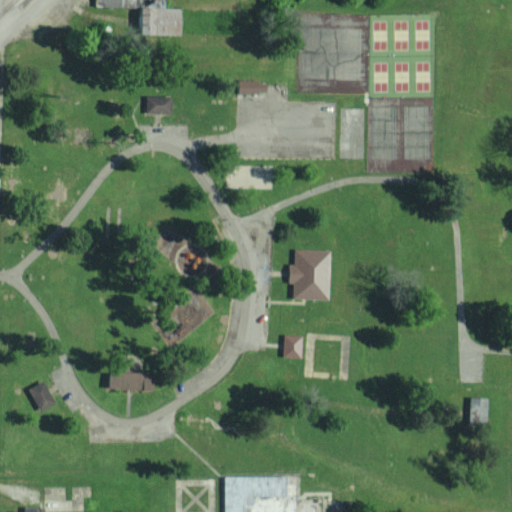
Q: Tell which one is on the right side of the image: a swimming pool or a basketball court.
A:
basketball court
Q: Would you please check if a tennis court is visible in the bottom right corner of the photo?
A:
No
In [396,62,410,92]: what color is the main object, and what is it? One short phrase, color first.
white sports court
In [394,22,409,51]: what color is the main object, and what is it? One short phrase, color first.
white sports court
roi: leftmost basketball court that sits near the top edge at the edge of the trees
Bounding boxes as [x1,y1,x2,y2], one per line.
[297,14,369,94]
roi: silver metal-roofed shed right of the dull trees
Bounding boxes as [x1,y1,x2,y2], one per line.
[470,398,490,424]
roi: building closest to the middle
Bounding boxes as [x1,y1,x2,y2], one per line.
[288,250,332,302]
